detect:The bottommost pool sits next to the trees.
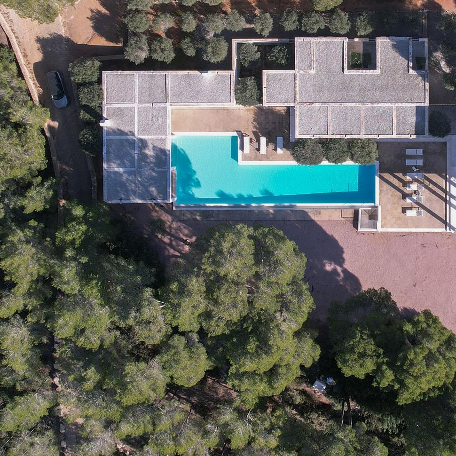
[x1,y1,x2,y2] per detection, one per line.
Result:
[170,132,378,210]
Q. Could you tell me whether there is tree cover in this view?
Yes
